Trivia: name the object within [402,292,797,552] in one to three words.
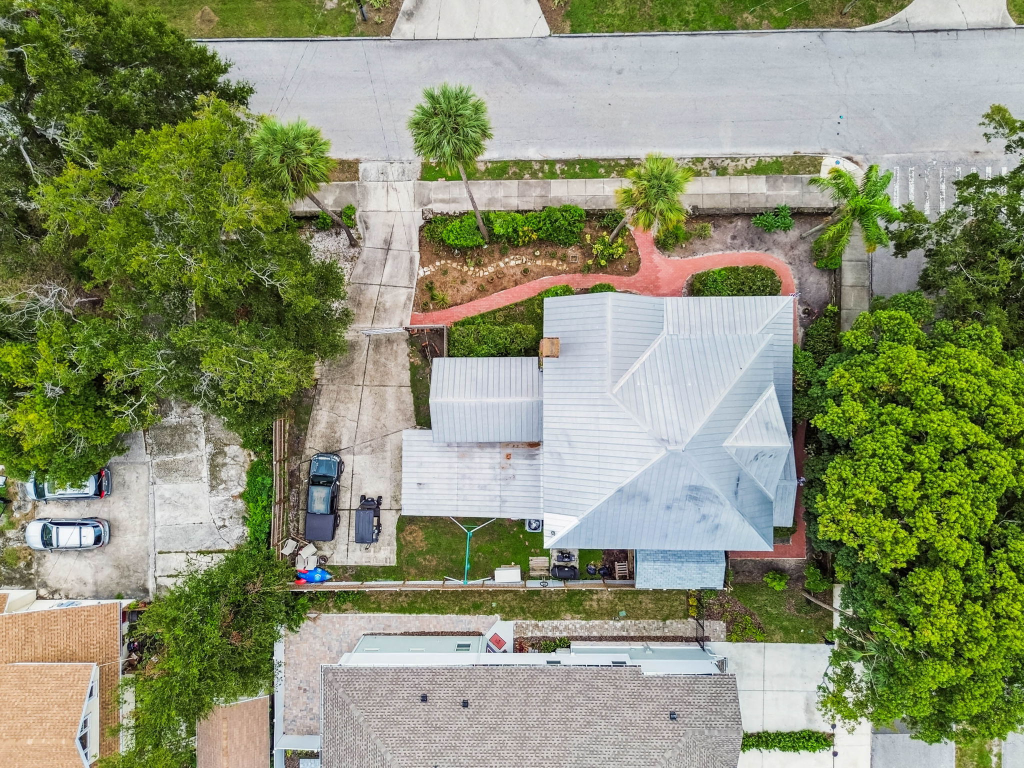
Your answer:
house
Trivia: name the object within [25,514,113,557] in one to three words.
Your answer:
car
